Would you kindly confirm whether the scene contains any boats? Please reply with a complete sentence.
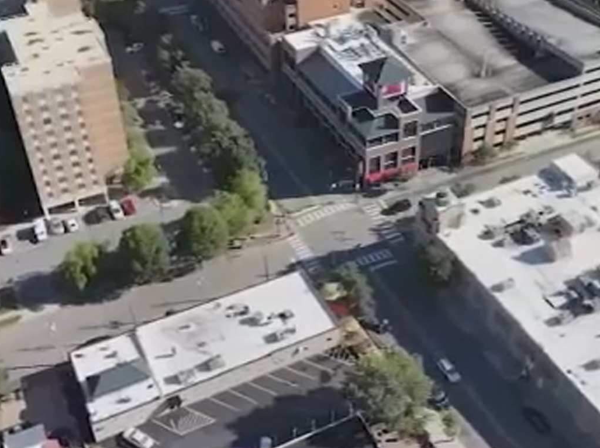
No, there isn't any boat down there.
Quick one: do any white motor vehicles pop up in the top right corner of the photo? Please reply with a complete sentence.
No, no white motor vehicle appears in the top right corner of the photo.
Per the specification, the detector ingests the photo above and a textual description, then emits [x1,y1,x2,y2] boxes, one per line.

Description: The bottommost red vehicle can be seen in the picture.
[121,195,136,216]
